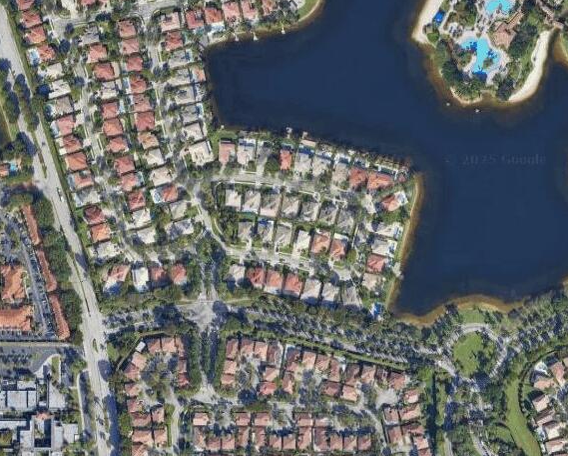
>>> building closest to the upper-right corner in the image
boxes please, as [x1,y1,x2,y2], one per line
[490,10,522,46]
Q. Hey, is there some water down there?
Yes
